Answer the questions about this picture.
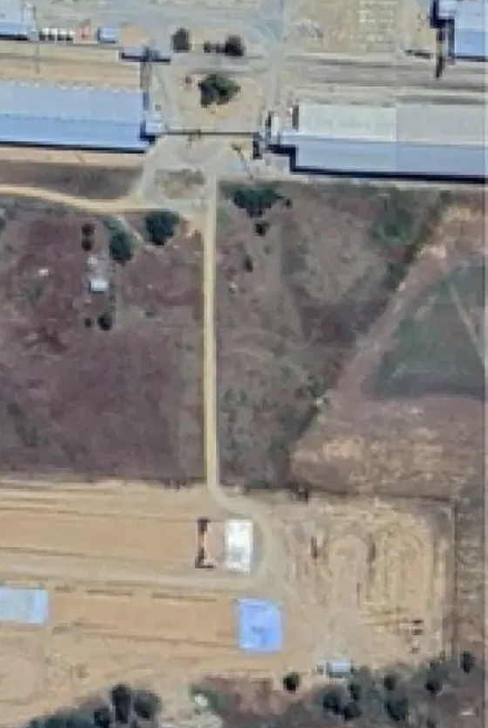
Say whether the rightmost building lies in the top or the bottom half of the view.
top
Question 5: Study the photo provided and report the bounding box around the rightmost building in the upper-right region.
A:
[455,0,488,57]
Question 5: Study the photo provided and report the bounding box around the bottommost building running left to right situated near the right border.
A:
[297,103,488,179]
